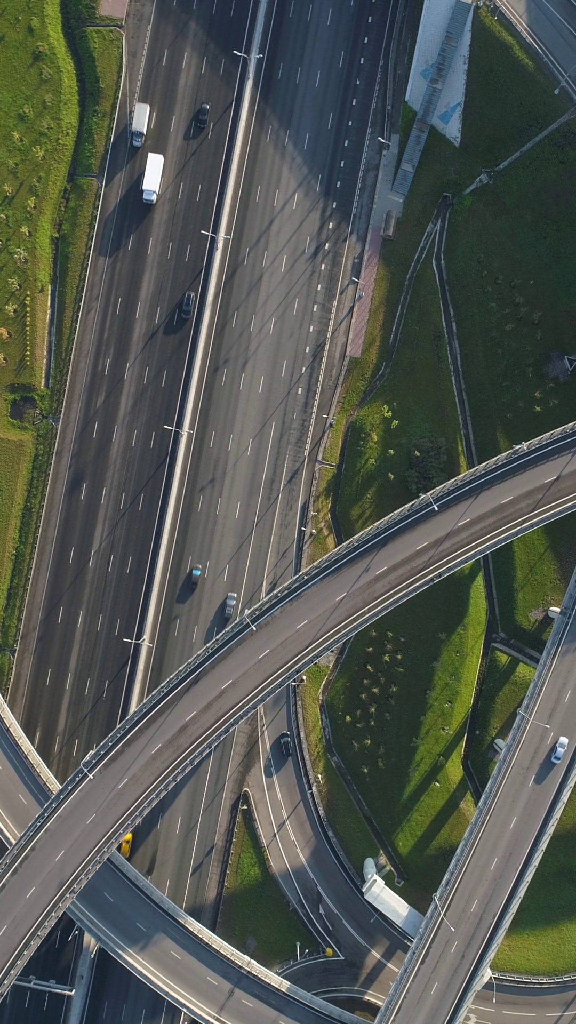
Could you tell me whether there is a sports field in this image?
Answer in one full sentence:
No, the picture doesn't show any sports field.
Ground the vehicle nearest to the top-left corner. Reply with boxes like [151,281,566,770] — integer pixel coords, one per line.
[128,98,148,147]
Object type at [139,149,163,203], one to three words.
truck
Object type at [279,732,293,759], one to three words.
car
